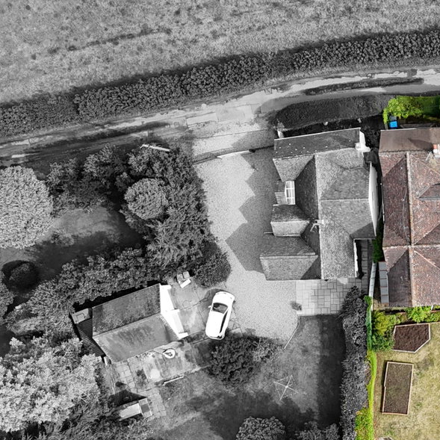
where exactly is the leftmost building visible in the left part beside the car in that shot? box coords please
[93,284,188,362]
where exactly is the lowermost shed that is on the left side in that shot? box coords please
[119,398,154,417]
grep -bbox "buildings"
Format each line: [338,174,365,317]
[119,398,154,417]
[260,126,377,280]
[379,127,440,306]
[93,284,188,362]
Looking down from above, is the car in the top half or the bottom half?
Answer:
bottom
